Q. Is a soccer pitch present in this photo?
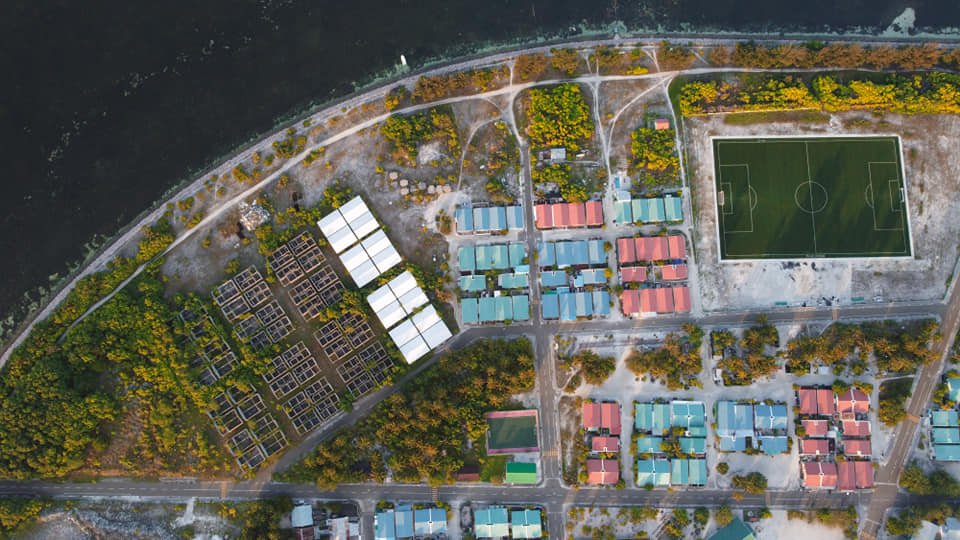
Yes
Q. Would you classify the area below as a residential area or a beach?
residential area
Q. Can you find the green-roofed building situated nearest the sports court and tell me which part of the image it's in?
bottom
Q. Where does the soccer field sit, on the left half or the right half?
right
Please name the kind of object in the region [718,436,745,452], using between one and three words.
house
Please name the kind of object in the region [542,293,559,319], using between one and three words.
house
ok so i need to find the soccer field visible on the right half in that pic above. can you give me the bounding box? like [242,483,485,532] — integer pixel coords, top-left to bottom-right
[710,134,915,262]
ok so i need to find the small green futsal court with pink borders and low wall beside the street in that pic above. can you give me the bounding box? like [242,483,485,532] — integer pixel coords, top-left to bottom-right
[487,410,540,456]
